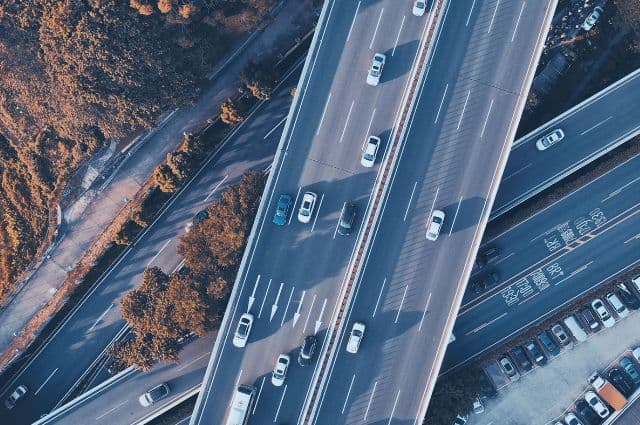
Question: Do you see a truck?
Yes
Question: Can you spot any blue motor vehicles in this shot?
Yes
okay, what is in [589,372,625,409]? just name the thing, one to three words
truck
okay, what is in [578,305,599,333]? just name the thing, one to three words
car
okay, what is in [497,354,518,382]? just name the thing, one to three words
car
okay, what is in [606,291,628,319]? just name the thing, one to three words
vehicle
